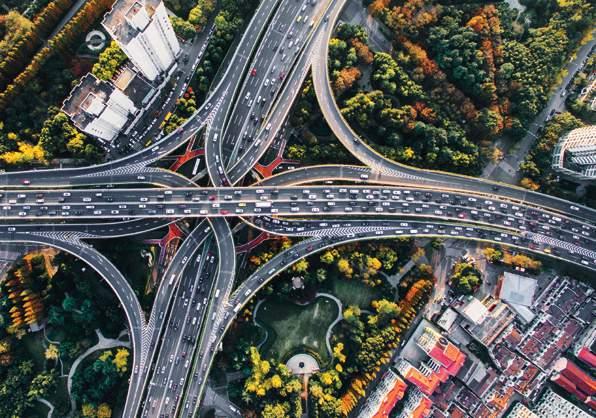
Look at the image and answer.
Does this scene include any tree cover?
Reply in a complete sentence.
Yes, tree cover can be seen from above here.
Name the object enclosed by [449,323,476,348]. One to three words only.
building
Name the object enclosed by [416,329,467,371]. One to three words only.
building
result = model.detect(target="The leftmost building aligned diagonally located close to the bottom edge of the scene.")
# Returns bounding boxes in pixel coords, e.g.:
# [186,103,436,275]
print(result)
[361,368,409,418]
